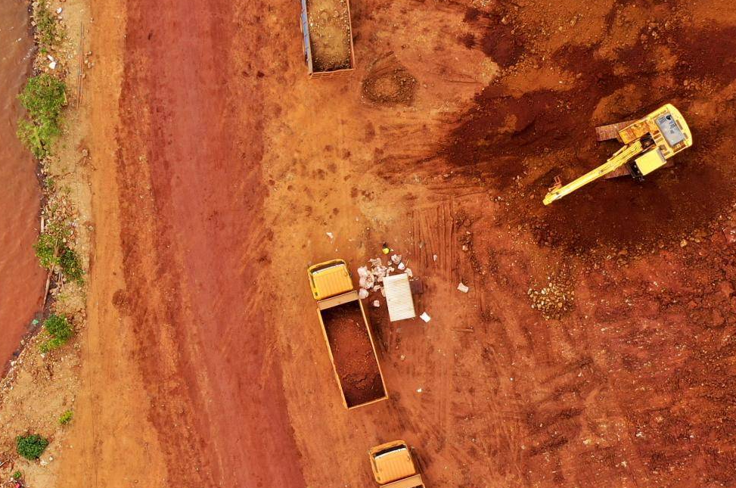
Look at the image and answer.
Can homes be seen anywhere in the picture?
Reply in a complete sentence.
No, I find no home anywhere in the image.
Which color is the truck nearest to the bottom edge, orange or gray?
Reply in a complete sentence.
From above, the truck nearest to the bottom edge appears orange.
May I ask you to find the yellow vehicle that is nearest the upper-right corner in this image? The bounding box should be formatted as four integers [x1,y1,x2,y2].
[538,104,691,203]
